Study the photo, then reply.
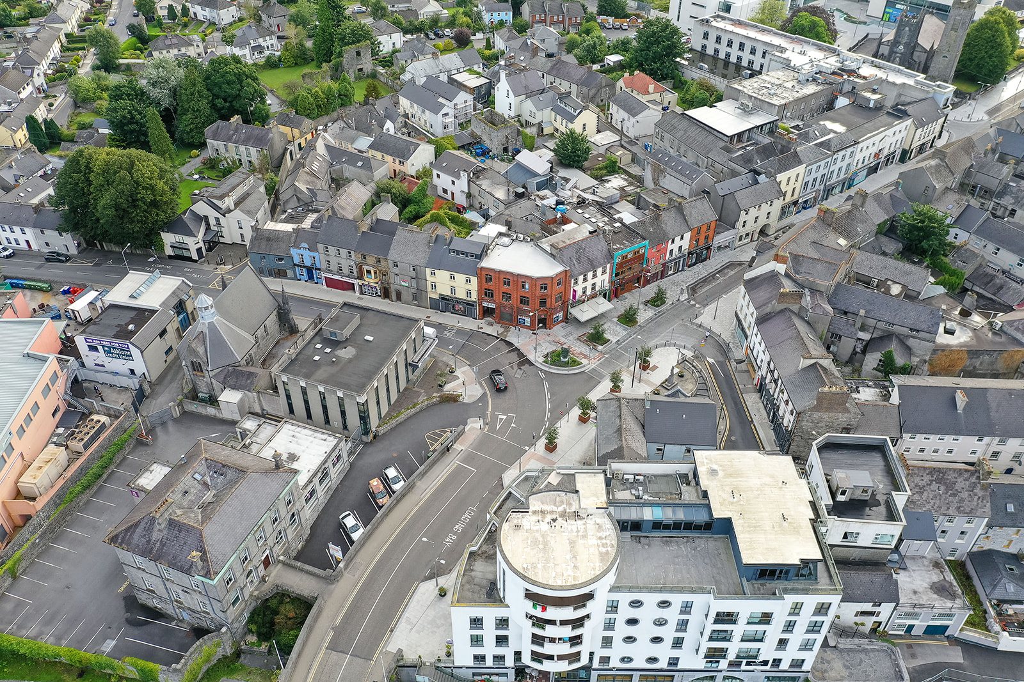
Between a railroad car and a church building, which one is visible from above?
church building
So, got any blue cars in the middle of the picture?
No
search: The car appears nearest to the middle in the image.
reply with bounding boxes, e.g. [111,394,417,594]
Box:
[489,366,509,389]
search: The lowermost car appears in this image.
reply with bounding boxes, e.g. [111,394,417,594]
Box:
[336,507,362,538]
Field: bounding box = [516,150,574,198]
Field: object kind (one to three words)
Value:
building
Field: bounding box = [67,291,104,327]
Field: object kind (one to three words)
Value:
trailer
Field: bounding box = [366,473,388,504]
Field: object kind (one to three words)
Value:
car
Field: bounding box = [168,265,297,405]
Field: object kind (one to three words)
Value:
church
